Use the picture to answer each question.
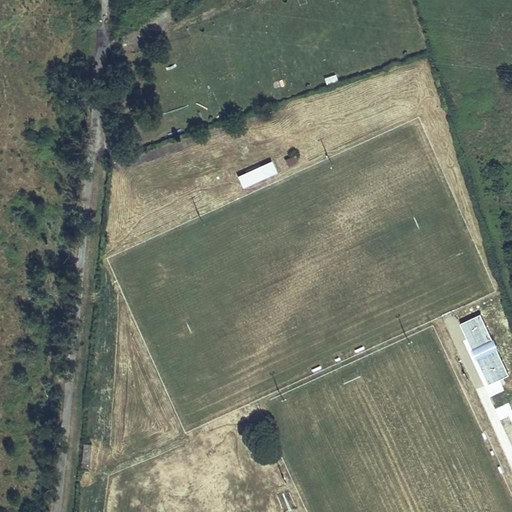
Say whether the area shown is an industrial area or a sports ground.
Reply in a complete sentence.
The area seen from above is a sports ground.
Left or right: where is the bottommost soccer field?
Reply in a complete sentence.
The bottommost soccer field sits on the right side.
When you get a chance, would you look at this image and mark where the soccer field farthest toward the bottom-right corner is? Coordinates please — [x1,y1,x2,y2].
[264,327,512,512]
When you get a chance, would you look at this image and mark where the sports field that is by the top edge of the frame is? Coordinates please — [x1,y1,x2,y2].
[135,0,423,142]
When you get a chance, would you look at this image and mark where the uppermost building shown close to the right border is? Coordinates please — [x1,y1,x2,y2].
[459,314,508,397]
